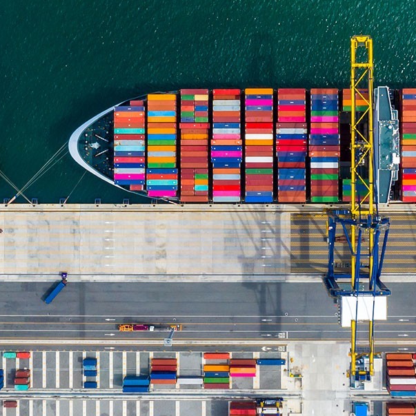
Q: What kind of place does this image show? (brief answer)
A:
port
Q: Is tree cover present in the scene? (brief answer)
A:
No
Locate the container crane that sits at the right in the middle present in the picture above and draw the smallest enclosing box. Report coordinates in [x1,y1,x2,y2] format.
[322,32,390,380]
